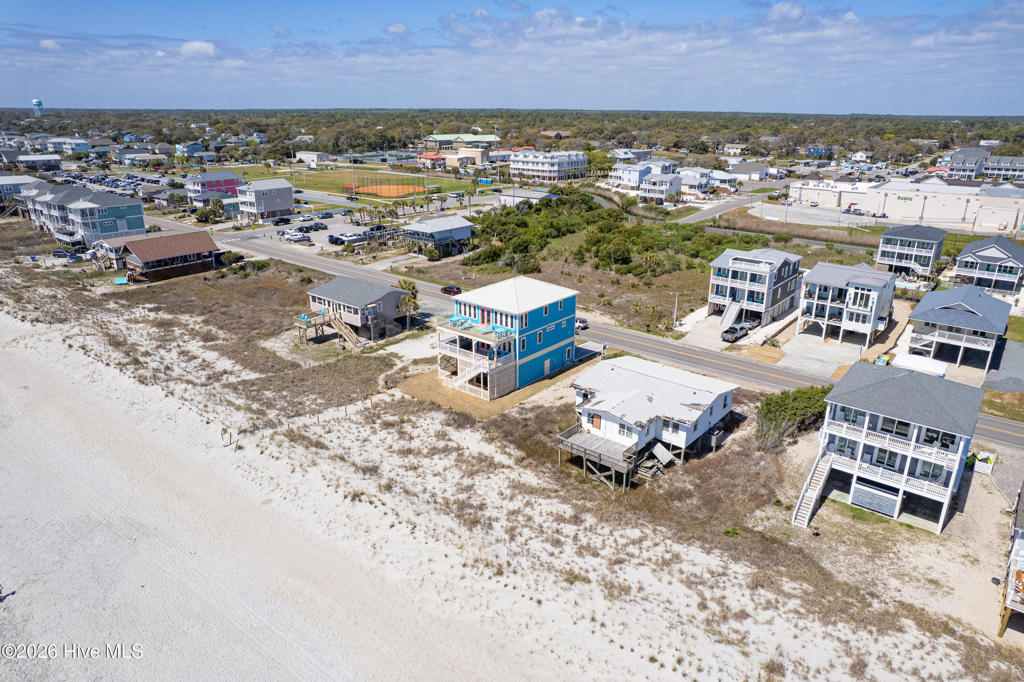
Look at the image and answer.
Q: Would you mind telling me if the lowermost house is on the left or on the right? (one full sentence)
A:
The lowermost house appears in the right half of the scene.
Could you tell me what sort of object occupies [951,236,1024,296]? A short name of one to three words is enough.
house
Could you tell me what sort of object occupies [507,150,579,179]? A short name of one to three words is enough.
building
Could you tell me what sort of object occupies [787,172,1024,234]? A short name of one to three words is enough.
building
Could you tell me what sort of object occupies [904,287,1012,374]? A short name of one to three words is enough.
house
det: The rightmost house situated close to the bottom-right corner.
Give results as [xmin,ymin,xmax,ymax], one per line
[986,495,1024,636]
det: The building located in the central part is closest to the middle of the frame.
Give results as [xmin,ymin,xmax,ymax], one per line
[435,276,582,401]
